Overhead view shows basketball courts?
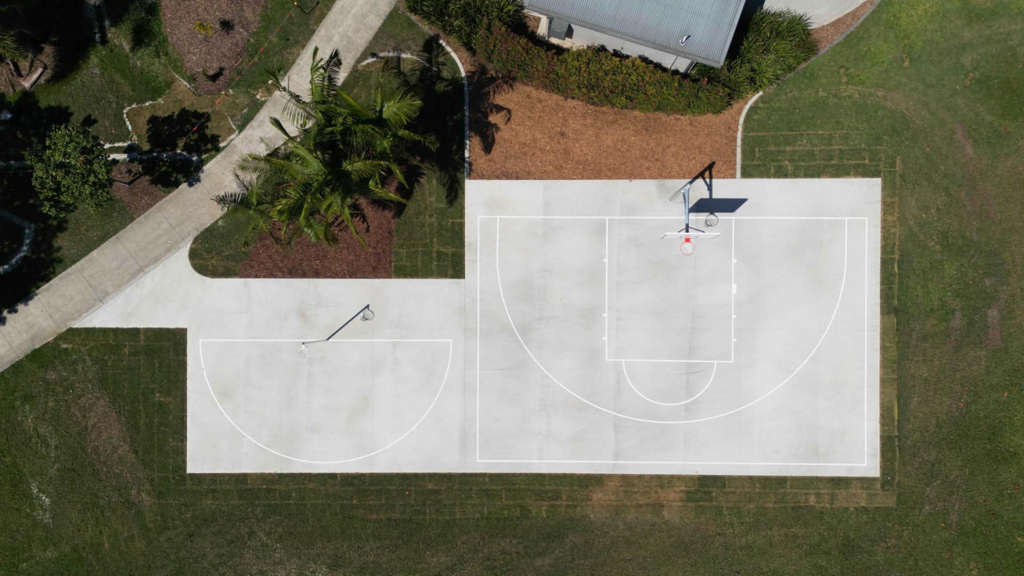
Yes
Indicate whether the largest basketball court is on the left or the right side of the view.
right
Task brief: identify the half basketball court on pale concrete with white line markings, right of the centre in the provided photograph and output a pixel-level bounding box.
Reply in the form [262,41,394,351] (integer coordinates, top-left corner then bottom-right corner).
[463,178,881,477]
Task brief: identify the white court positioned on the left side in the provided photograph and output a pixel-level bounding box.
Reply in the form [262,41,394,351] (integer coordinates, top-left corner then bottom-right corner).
[187,328,464,473]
